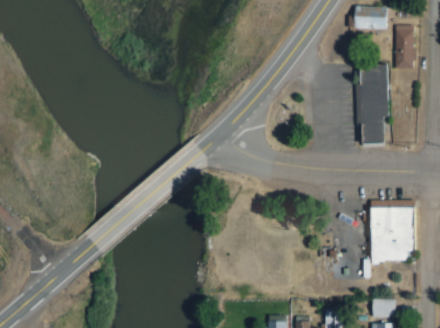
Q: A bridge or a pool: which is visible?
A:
bridge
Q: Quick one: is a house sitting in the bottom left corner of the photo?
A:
No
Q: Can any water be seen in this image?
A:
Yes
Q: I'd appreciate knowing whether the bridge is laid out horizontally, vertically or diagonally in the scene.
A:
diagonally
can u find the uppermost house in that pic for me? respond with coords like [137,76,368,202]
[349,5,388,30]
